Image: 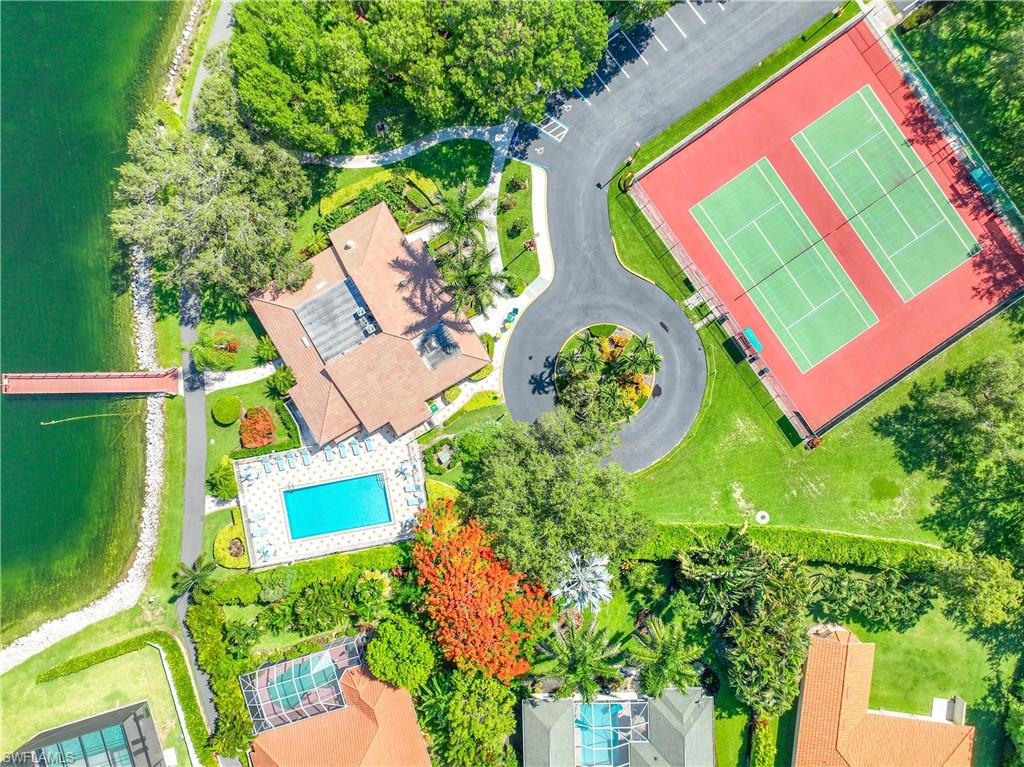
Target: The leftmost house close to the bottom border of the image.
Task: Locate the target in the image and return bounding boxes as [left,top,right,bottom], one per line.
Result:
[239,634,432,767]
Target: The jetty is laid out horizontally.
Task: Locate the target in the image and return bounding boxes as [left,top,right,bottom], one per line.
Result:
[1,366,178,397]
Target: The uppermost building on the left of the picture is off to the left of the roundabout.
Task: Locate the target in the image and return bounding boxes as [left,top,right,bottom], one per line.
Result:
[248,203,491,446]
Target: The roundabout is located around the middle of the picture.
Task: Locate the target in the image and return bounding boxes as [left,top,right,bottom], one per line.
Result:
[554,324,654,419]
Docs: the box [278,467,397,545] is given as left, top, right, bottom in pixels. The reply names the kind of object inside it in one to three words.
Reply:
swimming pool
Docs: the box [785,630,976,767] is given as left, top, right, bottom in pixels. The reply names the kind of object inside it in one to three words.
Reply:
house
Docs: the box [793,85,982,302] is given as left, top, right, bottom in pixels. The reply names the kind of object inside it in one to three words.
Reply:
tennis court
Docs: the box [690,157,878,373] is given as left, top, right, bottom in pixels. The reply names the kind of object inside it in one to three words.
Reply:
tennis court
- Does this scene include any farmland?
No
